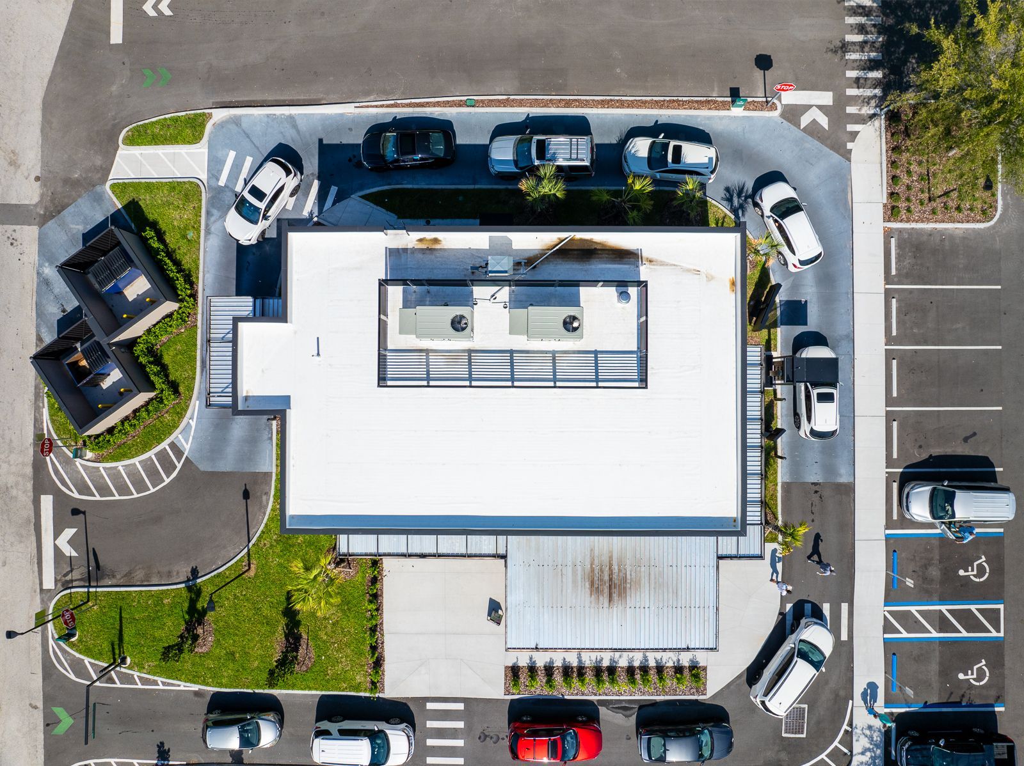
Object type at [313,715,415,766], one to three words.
car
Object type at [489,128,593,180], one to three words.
car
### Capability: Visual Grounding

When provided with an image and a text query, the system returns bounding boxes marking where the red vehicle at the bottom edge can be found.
[510,716,602,766]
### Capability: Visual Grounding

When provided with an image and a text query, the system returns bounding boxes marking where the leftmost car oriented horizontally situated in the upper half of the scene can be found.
[361,125,456,172]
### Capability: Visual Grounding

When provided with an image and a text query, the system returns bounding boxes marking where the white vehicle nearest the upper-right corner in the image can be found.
[755,182,820,271]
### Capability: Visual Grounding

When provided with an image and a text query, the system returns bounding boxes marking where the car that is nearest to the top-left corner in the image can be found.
[230,156,303,243]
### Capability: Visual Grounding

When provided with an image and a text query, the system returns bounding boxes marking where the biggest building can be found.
[207,220,766,652]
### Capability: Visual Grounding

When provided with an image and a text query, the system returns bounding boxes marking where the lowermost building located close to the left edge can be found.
[27,317,156,431]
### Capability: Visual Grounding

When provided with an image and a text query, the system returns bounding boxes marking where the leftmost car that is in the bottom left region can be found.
[202,708,285,757]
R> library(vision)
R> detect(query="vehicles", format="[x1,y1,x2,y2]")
[621,132,717,185]
[755,182,820,271]
[489,128,593,180]
[361,125,456,172]
[313,715,415,766]
[893,727,1017,766]
[637,717,733,766]
[202,708,285,757]
[749,617,833,716]
[898,479,1017,540]
[510,716,602,766]
[230,156,303,243]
